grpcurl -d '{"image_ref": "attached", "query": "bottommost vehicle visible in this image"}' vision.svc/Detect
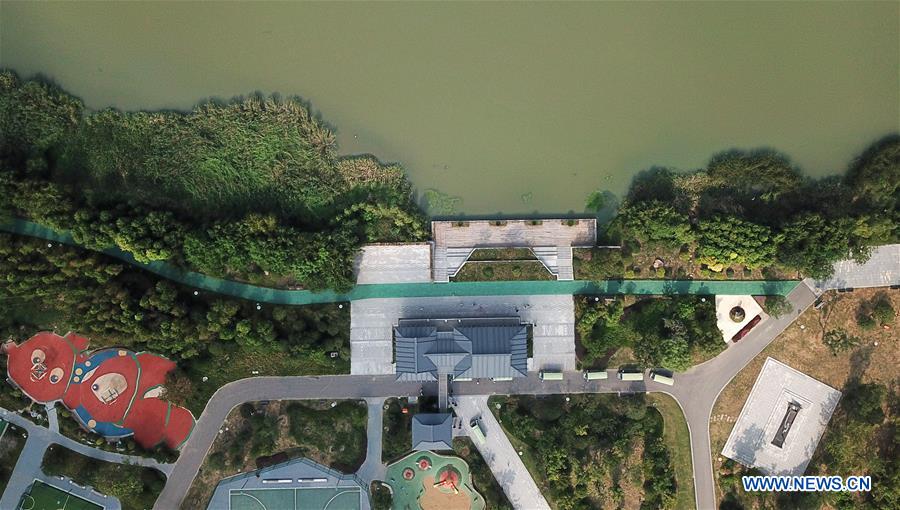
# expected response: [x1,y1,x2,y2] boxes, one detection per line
[469,418,487,446]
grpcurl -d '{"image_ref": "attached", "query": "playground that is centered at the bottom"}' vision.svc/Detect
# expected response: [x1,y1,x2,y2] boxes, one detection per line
[385,450,488,510]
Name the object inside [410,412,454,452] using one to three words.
building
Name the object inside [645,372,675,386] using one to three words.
vehicle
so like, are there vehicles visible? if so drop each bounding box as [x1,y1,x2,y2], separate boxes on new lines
[536,371,564,381]
[645,372,675,386]
[580,370,608,381]
[614,371,643,382]
[469,418,487,446]
[447,373,474,382]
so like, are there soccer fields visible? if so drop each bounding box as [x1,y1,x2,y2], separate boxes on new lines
[22,478,106,510]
